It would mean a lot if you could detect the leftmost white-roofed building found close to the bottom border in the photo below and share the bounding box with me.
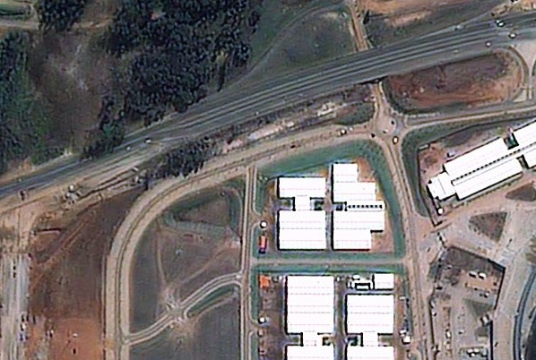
[287,276,334,360]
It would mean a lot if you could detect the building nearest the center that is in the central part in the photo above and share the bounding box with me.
[279,177,326,250]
